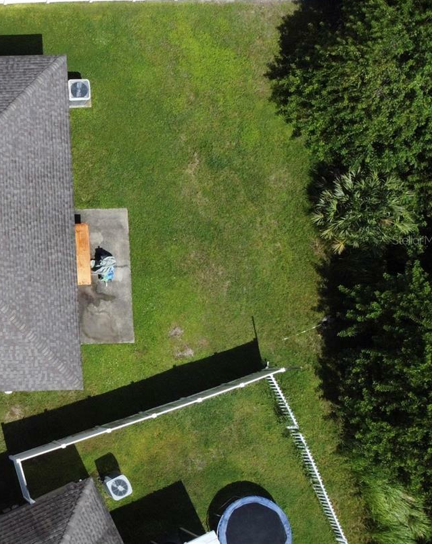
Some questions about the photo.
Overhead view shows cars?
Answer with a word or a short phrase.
No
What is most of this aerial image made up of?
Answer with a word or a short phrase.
grass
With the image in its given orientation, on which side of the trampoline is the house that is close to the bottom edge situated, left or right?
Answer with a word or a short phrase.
left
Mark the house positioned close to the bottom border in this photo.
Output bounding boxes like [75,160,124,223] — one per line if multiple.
[0,476,123,544]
